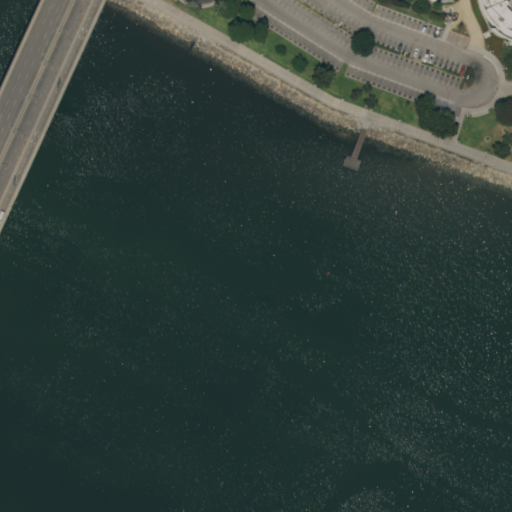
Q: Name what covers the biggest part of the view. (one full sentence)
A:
Most of the picture is covered by water.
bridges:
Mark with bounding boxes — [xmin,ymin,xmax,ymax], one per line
[0,0,106,234]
